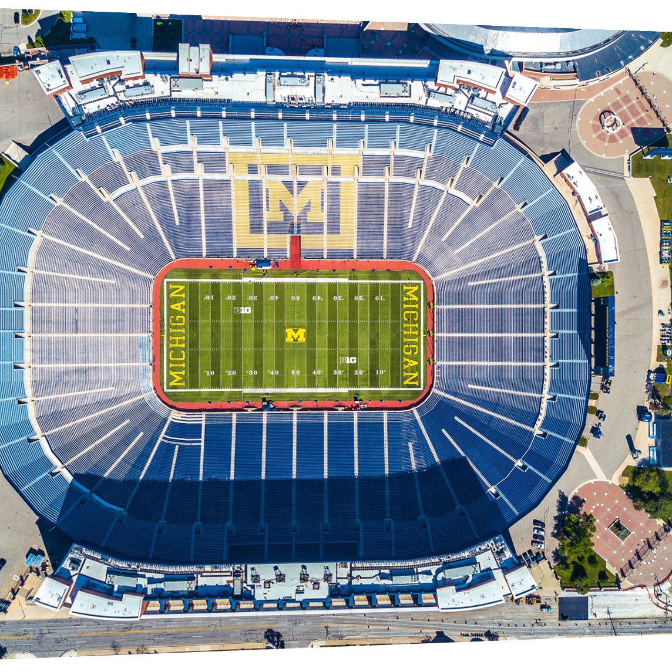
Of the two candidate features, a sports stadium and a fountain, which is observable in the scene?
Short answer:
sports stadium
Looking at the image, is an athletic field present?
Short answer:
Yes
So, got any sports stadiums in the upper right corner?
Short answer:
Yes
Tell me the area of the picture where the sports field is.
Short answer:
center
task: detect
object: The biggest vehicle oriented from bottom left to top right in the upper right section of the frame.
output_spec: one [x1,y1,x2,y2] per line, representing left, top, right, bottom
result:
[513,105,530,130]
